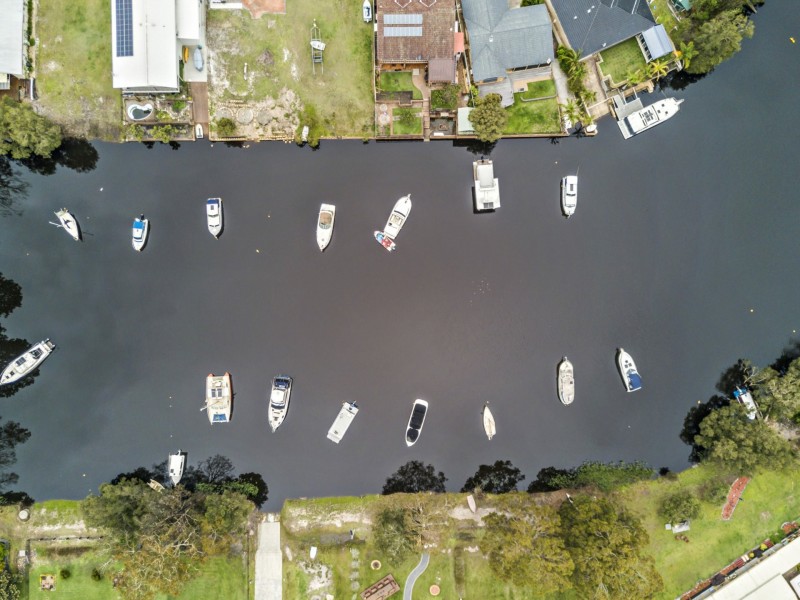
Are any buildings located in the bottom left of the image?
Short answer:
No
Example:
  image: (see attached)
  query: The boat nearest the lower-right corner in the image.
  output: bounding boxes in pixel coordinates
[734,390,757,418]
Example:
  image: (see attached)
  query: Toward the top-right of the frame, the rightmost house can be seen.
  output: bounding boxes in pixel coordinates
[545,0,656,61]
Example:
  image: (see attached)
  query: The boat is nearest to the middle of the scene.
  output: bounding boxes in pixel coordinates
[376,233,394,250]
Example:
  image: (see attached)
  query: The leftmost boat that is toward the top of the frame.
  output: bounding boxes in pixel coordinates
[52,209,80,240]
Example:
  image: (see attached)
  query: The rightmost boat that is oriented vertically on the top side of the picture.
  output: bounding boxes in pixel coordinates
[562,168,578,217]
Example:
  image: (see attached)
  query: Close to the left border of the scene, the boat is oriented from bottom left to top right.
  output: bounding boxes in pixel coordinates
[0,339,61,384]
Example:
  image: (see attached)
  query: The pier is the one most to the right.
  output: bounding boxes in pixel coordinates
[613,87,647,120]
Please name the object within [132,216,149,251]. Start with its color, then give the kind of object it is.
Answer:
white boat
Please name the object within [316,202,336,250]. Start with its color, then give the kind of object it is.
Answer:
white boat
